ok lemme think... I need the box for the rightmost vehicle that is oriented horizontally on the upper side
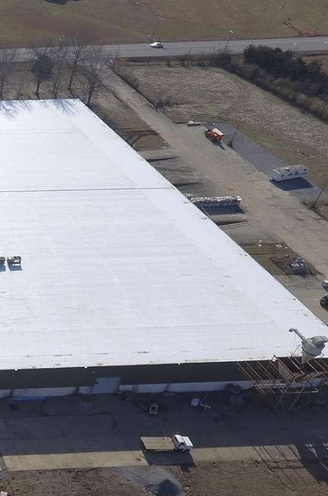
[268,161,312,179]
